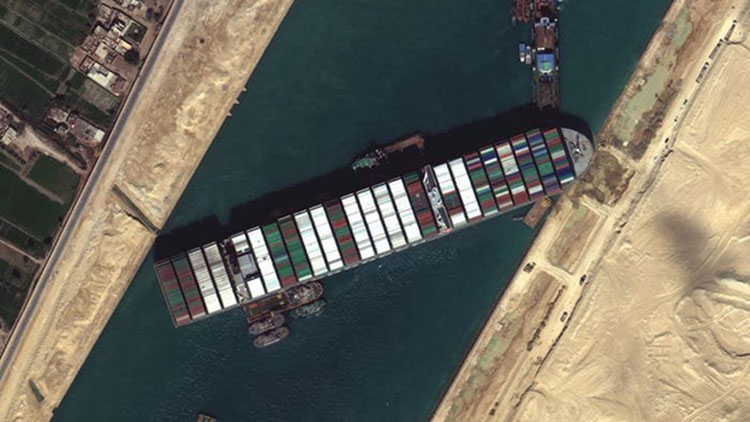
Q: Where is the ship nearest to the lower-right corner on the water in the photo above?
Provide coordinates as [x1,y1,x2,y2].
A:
[524,197,552,228]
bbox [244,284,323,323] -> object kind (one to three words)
ship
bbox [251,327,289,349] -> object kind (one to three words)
boat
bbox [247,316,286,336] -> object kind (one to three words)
boat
